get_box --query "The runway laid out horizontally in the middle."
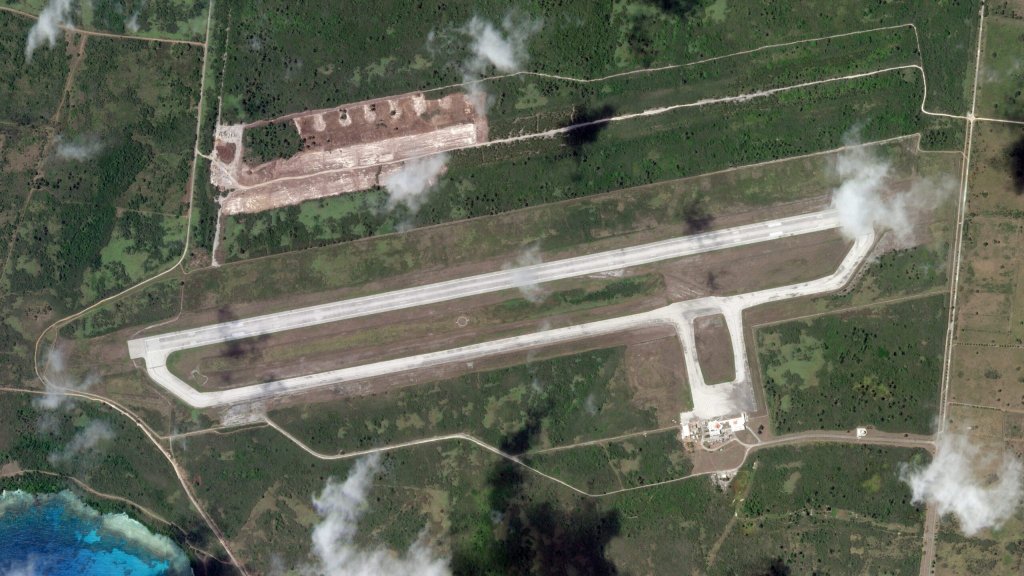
[145,203,872,356]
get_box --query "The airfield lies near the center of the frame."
[128,203,874,425]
